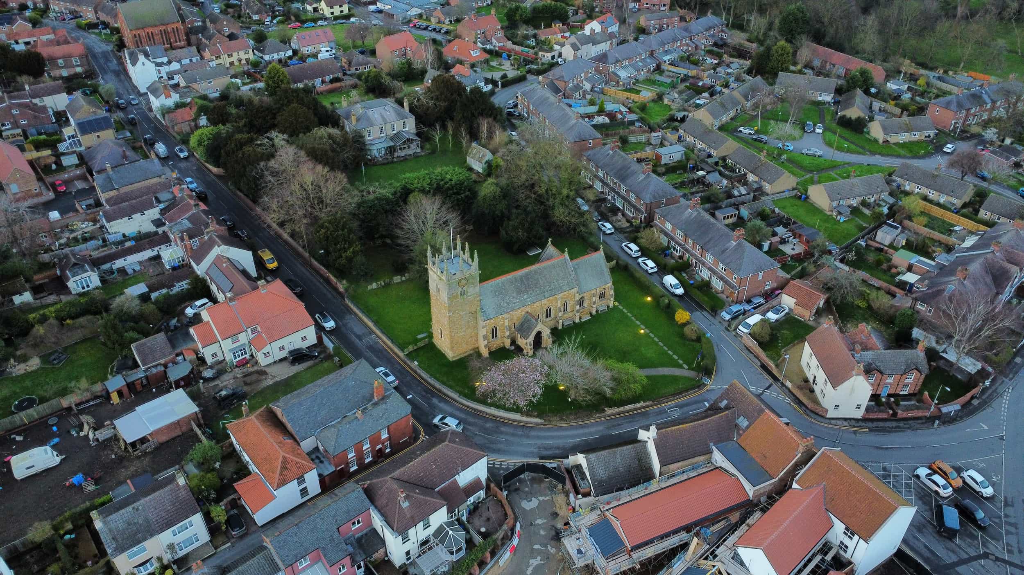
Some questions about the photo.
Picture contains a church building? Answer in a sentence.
Yes, there is a church building in the image.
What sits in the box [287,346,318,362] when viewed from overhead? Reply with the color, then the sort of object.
black car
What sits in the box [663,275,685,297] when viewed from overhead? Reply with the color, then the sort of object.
white car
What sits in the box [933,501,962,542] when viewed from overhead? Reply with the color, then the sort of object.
blue car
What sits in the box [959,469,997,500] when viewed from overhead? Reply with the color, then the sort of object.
white car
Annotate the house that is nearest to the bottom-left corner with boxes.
[89,467,209,575]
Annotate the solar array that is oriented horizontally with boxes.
[76,114,113,134]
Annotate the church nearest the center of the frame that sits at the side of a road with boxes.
[423,221,614,360]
